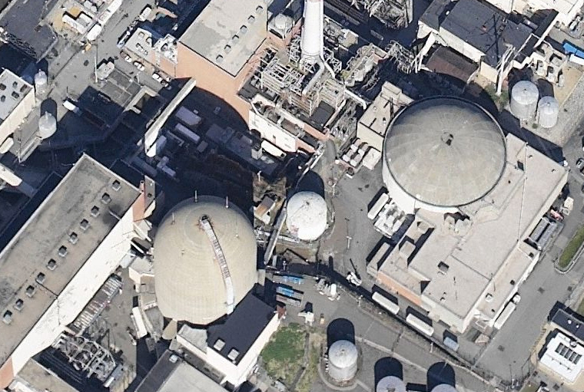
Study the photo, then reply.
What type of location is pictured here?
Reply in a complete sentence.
This image shows an industrial area.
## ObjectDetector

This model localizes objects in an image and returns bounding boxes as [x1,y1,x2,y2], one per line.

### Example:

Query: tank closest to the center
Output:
[284,194,329,245]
